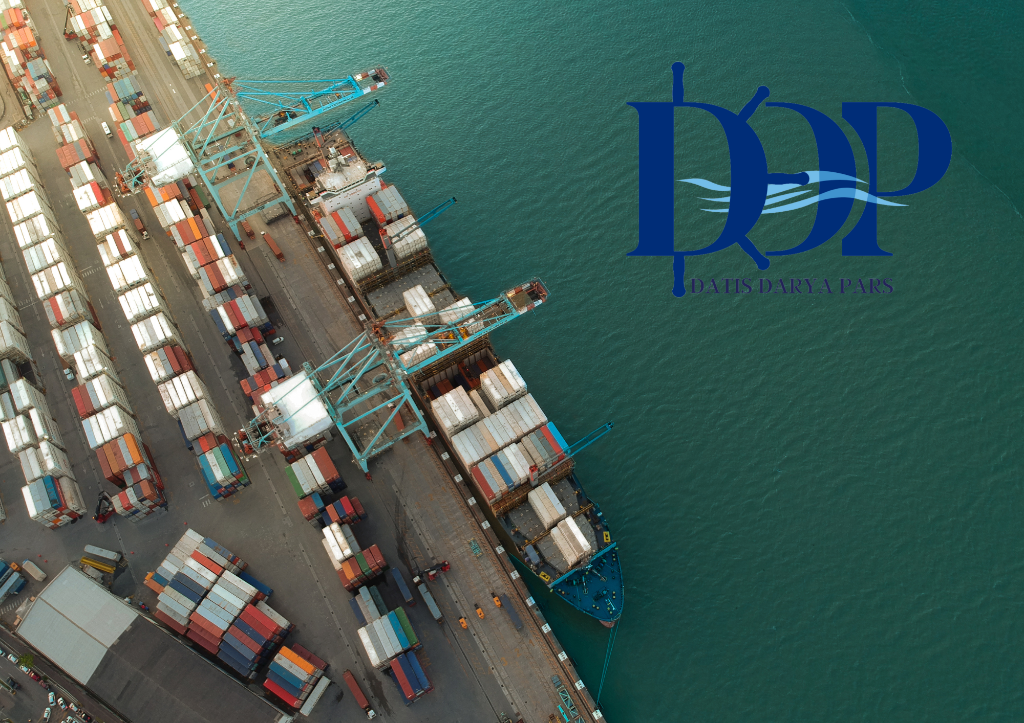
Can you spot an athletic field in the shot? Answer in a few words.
No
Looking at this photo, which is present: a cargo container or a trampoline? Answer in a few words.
cargo container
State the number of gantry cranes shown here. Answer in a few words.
two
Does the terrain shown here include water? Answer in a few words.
Yes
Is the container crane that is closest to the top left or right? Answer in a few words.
left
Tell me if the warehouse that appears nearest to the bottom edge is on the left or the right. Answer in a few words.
left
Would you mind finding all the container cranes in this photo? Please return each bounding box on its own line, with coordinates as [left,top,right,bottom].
[119,63,394,249]
[234,272,552,481]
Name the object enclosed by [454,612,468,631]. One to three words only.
work vehicle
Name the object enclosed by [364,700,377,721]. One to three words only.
vehicle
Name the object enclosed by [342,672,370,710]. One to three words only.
shipping container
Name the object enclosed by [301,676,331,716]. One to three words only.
shipping container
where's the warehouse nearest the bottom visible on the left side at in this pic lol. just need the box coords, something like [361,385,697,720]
[9,562,291,723]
